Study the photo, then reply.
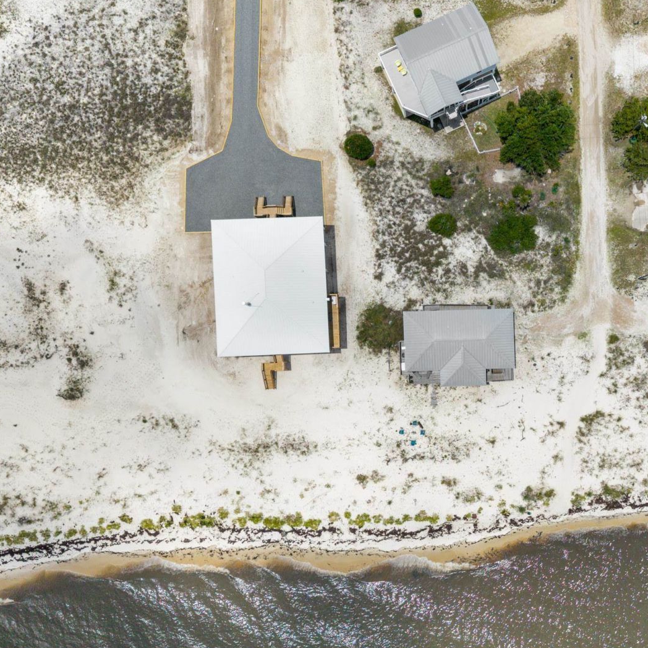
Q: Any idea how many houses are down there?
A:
three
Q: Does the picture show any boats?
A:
No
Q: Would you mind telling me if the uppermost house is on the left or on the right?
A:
right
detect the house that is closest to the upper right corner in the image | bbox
[378,2,501,123]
